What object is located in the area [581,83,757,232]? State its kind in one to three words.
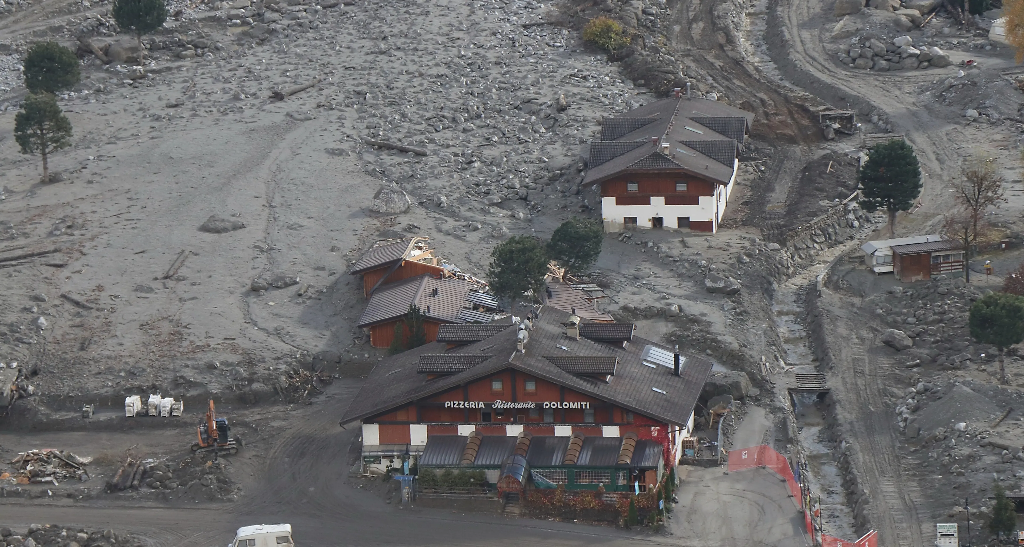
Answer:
house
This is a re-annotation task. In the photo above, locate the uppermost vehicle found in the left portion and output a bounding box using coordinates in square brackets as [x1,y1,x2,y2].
[195,401,245,460]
